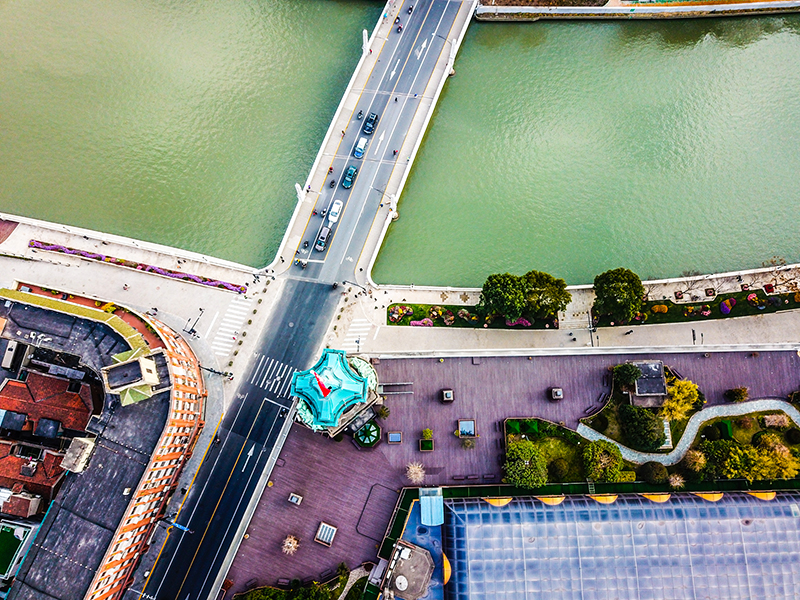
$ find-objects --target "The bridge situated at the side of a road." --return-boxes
[272,0,479,287]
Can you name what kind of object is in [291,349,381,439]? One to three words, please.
building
